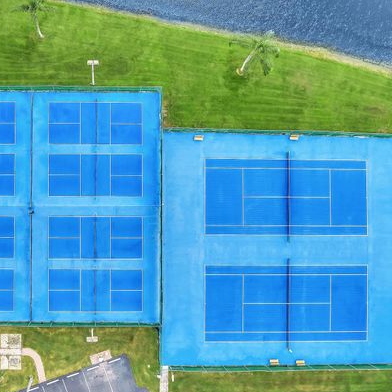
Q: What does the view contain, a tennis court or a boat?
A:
tennis court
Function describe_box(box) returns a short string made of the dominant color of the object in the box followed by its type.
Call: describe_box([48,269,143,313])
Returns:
blue sports court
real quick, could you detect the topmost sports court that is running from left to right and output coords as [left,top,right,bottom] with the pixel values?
[49,102,143,145]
